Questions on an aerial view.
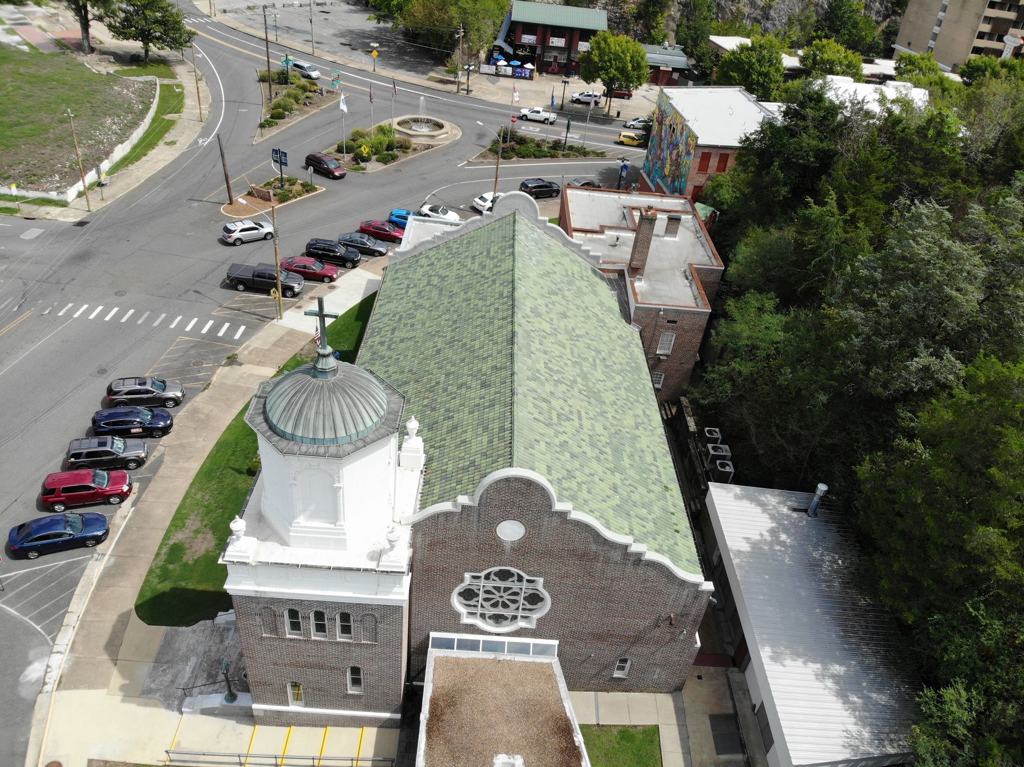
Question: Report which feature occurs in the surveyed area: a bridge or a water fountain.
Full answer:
I can see a water fountain in this picture.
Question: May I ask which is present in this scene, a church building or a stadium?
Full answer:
Visible in the photo is a church building.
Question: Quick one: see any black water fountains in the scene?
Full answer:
No, no black water fountain is visible in the scene.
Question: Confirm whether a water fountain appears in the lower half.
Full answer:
No, there is no water fountain in the lower half.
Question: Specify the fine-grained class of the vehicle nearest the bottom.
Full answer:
Looking closely, the vehicle nearest the bottom is a car.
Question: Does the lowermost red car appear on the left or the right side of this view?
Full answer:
You can find the lowermost red car on the left side of the picture.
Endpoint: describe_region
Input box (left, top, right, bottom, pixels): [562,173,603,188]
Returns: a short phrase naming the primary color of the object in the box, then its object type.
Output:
gray car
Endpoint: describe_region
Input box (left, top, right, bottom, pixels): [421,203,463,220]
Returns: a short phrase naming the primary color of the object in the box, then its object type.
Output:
white car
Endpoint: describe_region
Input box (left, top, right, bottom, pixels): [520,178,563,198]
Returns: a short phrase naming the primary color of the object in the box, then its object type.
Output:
black car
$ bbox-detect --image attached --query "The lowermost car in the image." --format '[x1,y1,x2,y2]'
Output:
[2,509,112,561]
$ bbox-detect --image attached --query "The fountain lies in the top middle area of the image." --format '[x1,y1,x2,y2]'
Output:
[389,92,454,142]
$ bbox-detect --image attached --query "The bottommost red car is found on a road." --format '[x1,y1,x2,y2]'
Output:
[34,466,134,513]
